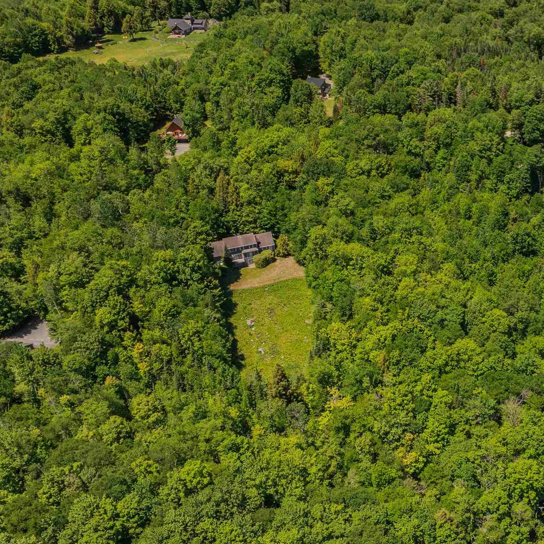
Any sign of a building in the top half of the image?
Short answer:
Yes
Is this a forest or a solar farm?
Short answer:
forest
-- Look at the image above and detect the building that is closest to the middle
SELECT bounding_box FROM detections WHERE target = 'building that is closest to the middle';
[207,227,275,266]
